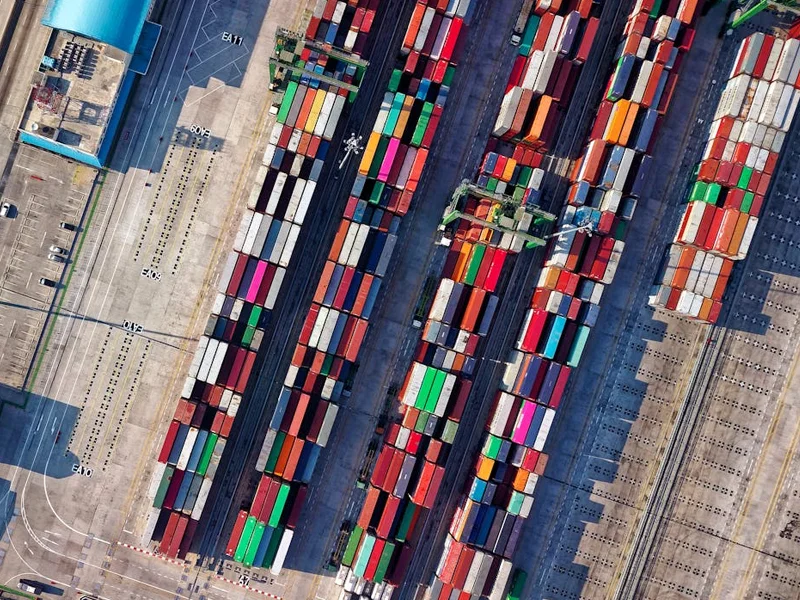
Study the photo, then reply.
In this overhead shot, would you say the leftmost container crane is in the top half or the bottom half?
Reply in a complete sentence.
The top half of the photo is where the leftmost container crane is.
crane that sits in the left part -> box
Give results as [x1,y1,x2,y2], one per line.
[265,26,373,119]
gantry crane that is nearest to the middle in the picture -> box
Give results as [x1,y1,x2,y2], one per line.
[431,180,561,257]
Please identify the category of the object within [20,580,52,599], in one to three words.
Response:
vehicle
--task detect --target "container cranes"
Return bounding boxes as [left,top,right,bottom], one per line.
[714,0,800,41]
[431,180,561,257]
[265,26,373,119]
